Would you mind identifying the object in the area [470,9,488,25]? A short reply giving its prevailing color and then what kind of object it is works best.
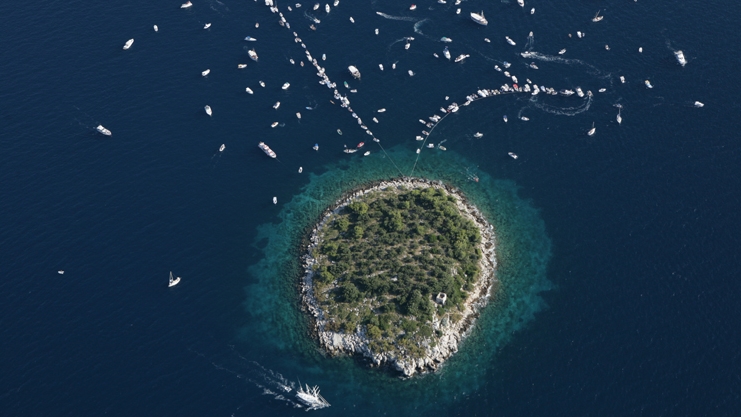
white boat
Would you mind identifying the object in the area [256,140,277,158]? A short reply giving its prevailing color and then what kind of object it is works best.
white ship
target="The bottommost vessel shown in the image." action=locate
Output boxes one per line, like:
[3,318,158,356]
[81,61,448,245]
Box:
[296,380,331,405]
